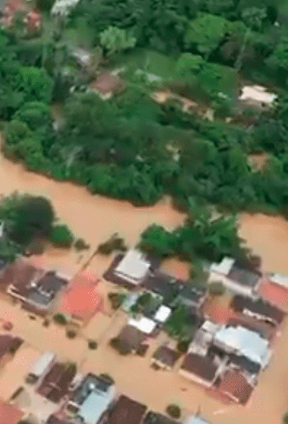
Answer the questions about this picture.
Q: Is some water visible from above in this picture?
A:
Yes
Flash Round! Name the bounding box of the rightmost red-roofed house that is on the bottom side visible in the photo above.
[256,277,288,309]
